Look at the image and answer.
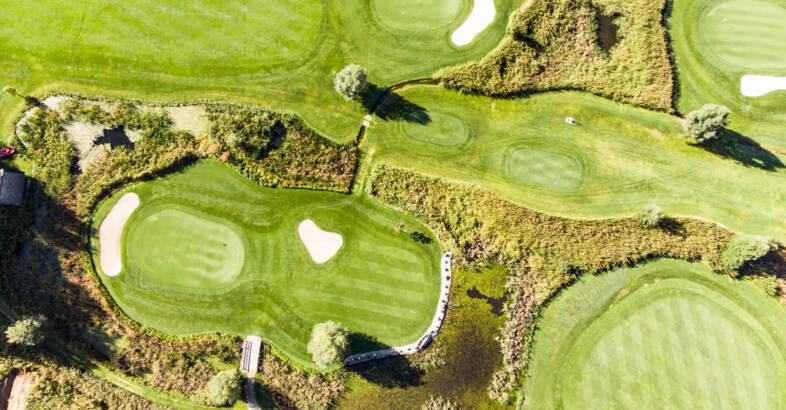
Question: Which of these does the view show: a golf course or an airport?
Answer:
golf course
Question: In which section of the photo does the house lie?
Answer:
left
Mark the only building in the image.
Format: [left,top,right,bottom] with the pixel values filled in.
[0,170,35,206]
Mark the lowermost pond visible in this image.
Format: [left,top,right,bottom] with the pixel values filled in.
[339,256,511,410]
